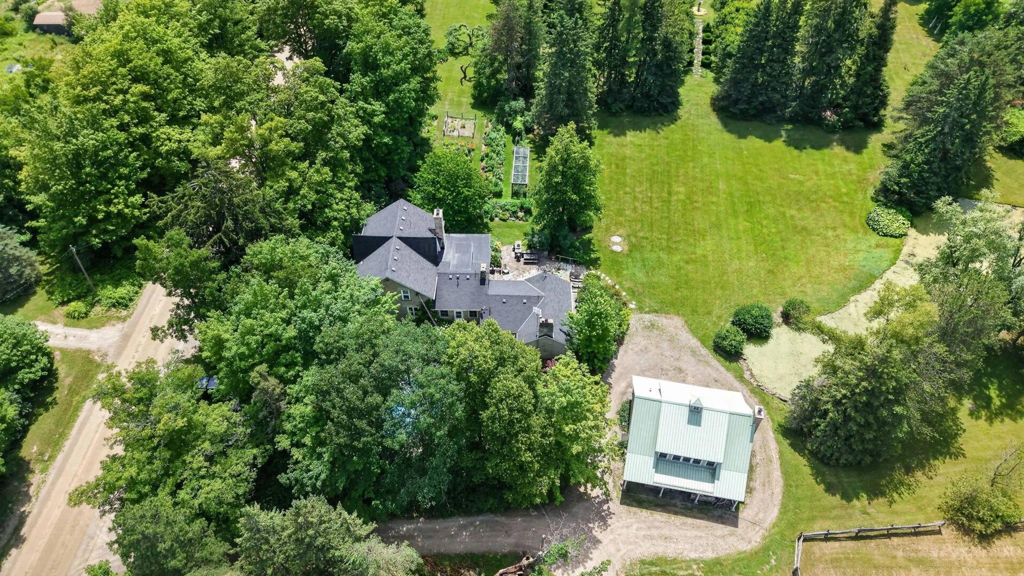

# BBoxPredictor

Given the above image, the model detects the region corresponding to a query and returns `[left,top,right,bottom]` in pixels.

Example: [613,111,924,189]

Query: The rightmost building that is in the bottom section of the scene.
[622,375,762,513]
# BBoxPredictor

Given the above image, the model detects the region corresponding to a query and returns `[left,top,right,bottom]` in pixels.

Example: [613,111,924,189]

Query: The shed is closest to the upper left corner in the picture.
[30,10,93,39]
